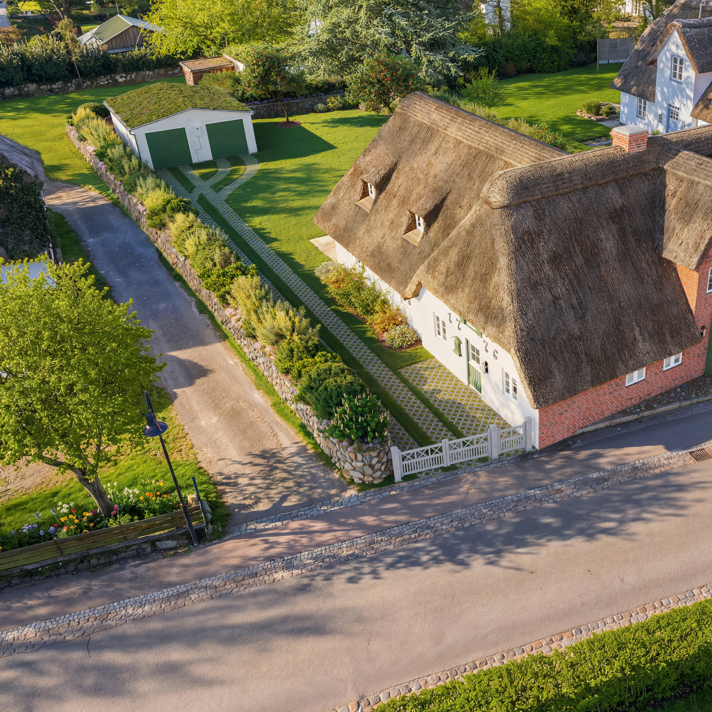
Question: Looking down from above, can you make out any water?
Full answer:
No, the picture contains no water.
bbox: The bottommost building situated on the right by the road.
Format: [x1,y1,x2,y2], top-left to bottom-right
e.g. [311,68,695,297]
[313,85,712,450]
